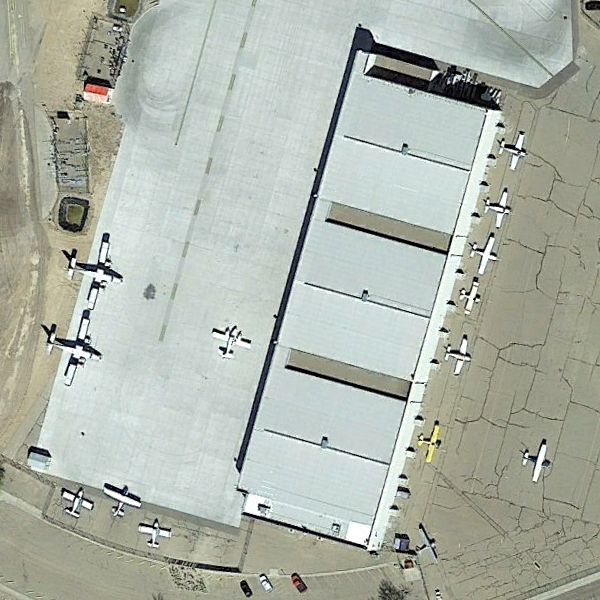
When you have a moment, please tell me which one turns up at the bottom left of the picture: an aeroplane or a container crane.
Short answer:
aeroplane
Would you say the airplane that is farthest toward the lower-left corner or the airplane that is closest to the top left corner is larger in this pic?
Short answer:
the airplane that is closest to the top left corner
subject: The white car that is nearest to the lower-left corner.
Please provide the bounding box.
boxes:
[260,574,273,593]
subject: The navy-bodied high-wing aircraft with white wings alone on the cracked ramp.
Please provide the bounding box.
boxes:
[521,445,553,482]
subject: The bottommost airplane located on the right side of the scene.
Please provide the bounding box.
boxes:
[414,526,438,564]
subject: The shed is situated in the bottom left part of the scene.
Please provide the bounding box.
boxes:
[29,451,52,472]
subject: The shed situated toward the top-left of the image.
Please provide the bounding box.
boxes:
[85,81,112,102]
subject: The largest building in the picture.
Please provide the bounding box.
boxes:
[234,49,501,550]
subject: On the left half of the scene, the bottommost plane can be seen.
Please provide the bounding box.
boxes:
[138,523,171,548]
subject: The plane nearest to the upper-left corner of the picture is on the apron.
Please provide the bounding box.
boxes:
[62,241,121,311]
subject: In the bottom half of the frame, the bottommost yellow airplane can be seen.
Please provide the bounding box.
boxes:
[415,425,442,462]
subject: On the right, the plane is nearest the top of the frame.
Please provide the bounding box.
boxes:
[497,134,529,170]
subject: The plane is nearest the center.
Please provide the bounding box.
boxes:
[212,326,250,360]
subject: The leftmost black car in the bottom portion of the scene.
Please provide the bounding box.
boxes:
[240,579,253,598]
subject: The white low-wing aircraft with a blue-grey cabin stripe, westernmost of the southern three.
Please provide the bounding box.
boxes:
[62,491,93,517]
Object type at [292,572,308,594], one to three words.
vehicle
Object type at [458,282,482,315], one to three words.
airplane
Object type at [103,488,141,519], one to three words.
airplane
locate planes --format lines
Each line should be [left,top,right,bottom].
[414,526,438,564]
[497,134,529,170]
[521,445,553,482]
[468,237,499,274]
[458,282,482,315]
[212,326,250,360]
[138,523,171,548]
[39,319,101,386]
[103,488,141,519]
[62,491,93,517]
[62,241,121,311]
[483,192,513,227]
[442,339,473,375]
[415,425,442,462]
